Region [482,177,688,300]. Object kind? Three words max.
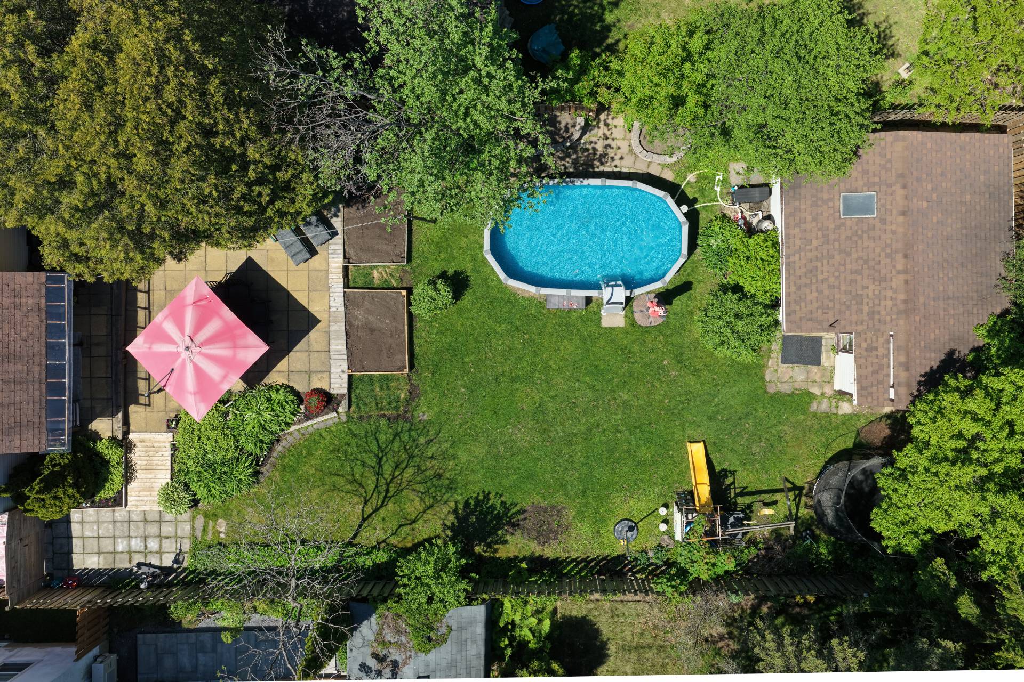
swimming pool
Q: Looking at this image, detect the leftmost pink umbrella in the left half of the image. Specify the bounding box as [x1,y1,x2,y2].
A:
[126,275,269,421]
